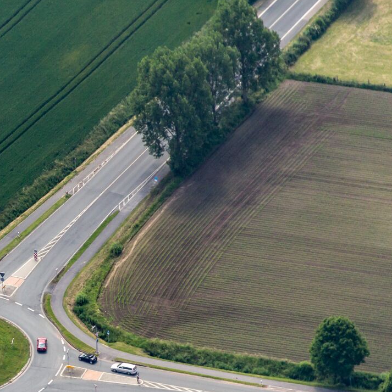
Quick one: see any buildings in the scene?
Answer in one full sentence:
No, I can't see a single building in this photo.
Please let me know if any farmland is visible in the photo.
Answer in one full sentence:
Yes, farmland shows up in the scene.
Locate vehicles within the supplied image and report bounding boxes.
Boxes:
[37,339,47,353]
[111,363,139,376]
[76,351,101,364]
